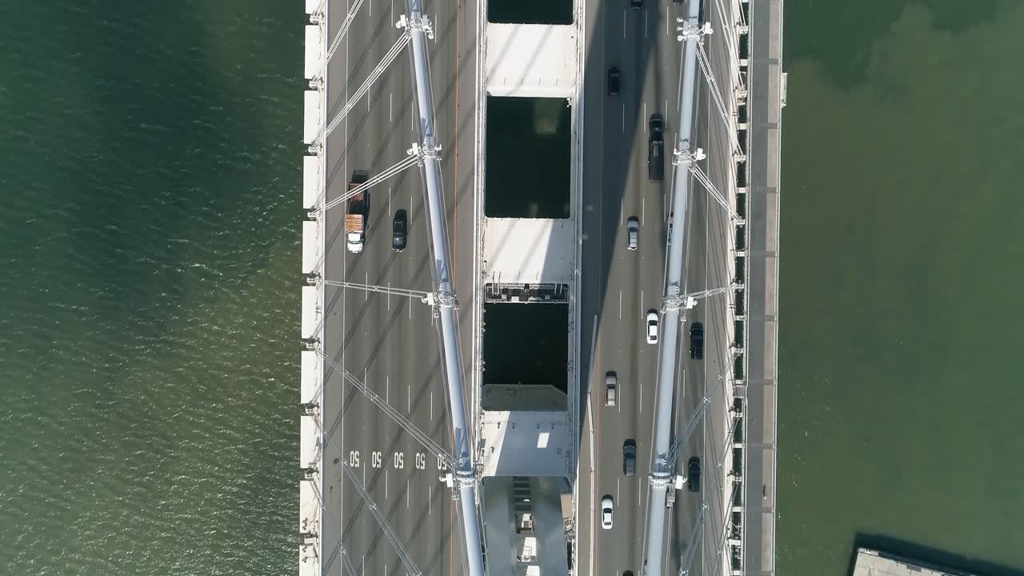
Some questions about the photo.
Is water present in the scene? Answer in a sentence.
Yes, some water is visible.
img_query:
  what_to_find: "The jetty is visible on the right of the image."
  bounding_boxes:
[848,543,984,576]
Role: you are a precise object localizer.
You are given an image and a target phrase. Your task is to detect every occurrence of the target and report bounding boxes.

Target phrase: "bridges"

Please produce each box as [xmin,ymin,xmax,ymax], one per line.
[300,0,791,576]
